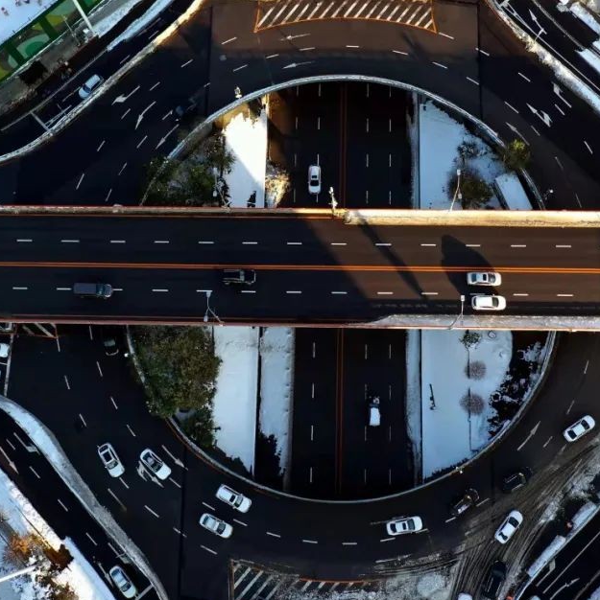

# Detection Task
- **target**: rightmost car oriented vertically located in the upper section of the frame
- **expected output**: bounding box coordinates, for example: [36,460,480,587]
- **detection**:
[308,165,321,193]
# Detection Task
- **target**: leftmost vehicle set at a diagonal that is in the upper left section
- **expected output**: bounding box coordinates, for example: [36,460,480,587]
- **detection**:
[78,73,104,98]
